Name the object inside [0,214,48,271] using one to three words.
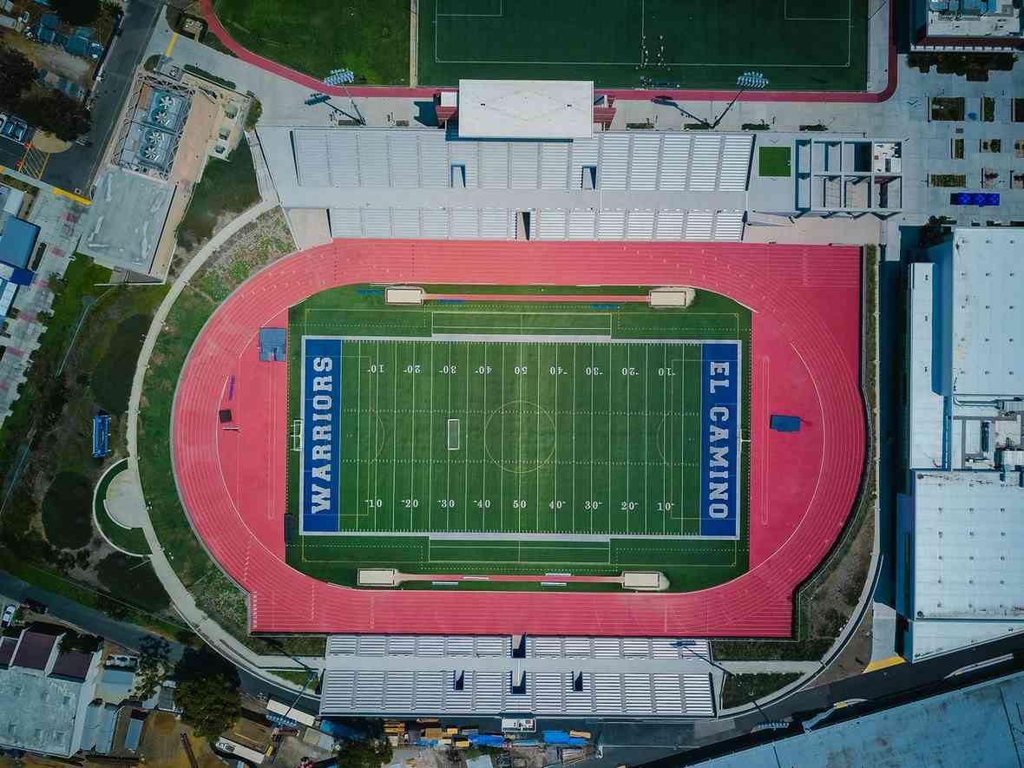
building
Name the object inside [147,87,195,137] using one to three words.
cooling tower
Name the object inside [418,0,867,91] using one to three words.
soccer field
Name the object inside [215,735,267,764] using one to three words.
trailer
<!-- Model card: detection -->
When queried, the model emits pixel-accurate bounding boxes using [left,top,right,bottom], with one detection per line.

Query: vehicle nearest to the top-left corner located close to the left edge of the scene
[17,6,32,25]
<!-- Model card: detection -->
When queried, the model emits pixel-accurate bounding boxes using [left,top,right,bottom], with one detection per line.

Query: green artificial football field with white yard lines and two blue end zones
[288,284,753,592]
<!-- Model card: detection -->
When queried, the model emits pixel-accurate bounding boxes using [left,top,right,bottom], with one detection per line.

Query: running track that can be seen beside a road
[168,238,869,639]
